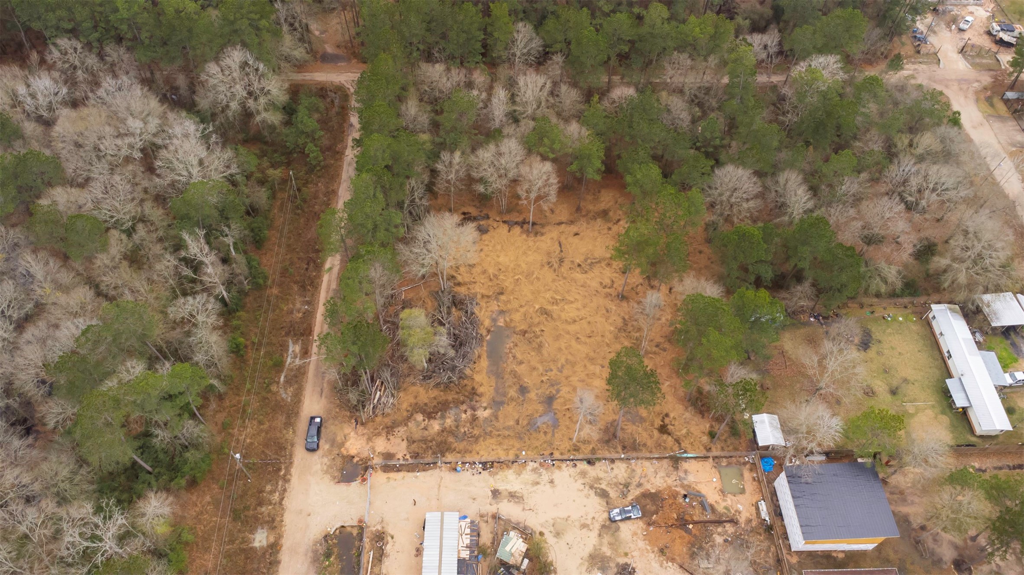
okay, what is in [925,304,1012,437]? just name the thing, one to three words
house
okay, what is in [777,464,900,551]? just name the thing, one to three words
house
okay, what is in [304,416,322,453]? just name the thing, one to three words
vehicle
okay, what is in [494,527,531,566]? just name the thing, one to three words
shed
